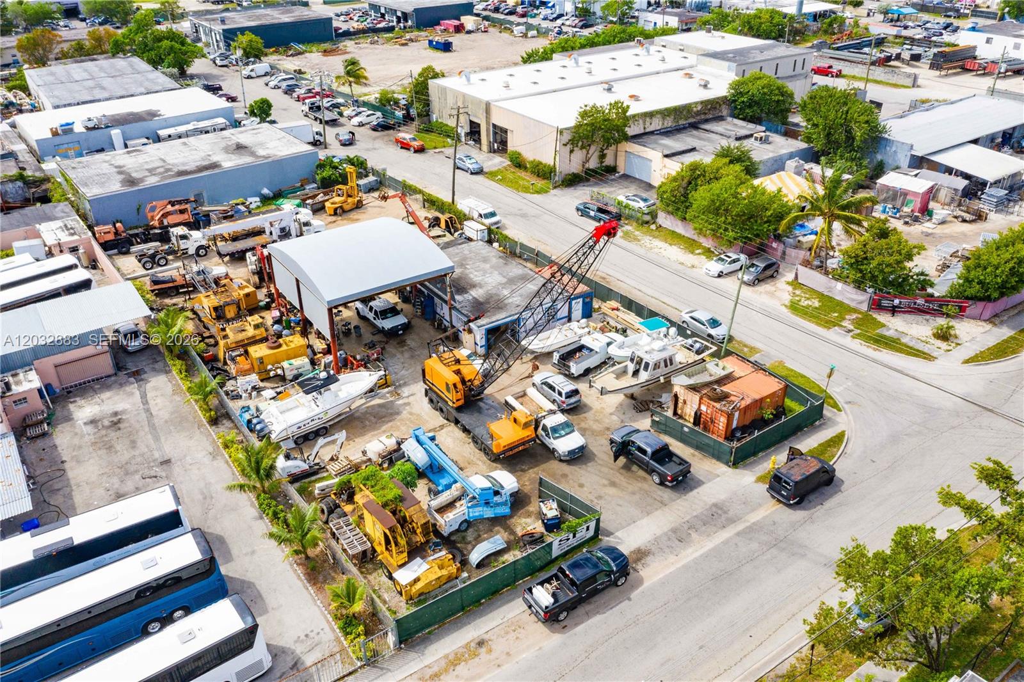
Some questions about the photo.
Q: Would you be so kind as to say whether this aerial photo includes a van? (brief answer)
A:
Yes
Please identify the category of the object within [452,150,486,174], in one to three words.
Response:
car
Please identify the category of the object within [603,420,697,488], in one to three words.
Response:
truck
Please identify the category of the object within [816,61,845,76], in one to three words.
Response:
vehicle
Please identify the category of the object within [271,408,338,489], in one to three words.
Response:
work vehicle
